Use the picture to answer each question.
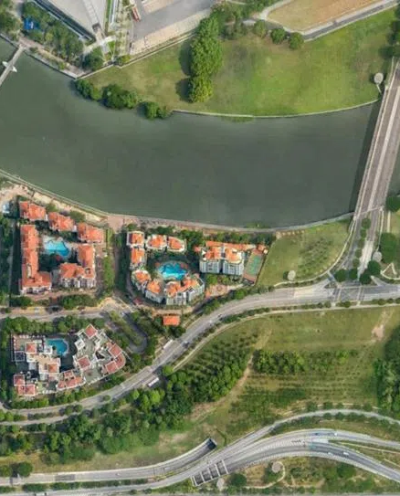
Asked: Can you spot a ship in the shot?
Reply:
No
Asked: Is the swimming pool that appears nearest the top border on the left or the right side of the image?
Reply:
left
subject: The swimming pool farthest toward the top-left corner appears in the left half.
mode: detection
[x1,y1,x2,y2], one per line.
[42,237,70,258]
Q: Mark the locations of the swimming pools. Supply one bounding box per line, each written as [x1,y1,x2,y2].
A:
[42,237,70,258]
[46,337,68,356]
[158,261,189,282]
